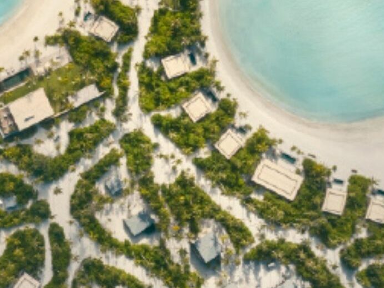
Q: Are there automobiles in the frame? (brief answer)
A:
No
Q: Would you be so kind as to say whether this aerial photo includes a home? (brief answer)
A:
Yes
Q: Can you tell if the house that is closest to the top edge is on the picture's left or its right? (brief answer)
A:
left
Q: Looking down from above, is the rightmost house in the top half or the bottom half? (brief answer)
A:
bottom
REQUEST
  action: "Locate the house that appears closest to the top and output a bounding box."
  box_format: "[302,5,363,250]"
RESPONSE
[77,8,117,42]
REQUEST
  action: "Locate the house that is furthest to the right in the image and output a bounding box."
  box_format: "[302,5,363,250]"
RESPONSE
[361,185,384,224]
